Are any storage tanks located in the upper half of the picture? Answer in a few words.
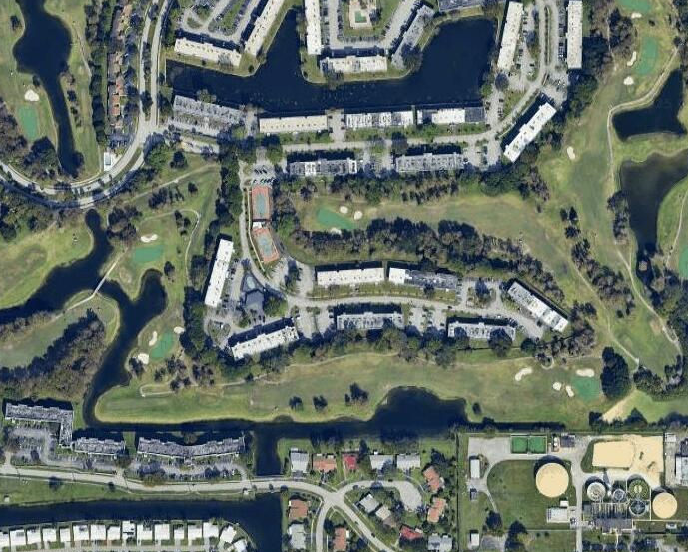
No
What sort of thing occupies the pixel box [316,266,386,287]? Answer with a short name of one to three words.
building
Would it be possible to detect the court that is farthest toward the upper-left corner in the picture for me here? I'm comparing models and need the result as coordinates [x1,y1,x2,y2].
[252,186,269,219]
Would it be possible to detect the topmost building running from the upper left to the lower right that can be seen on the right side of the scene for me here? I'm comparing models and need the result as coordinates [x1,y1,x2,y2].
[508,281,570,333]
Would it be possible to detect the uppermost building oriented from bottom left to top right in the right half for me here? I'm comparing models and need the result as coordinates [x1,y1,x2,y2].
[391,4,436,66]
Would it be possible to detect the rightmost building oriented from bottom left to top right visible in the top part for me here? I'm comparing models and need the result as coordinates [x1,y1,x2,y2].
[504,102,559,162]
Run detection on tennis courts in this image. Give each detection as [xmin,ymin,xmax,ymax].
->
[252,186,269,219]
[253,229,279,262]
